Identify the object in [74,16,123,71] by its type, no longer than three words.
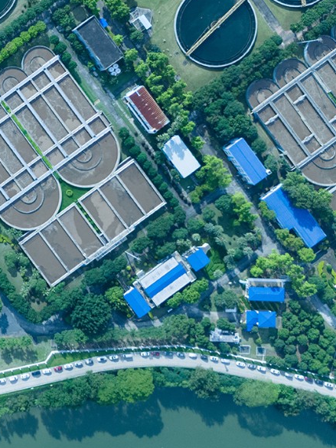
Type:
house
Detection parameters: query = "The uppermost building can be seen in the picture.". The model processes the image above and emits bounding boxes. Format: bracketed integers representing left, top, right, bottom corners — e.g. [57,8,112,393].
[129,7,153,31]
